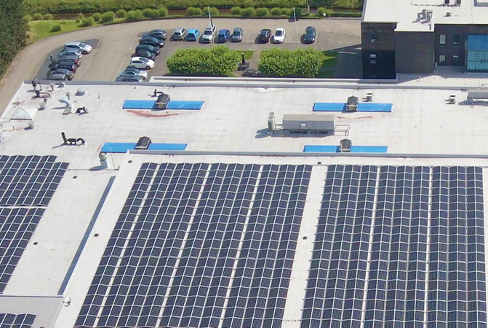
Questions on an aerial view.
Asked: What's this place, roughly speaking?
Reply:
industrial area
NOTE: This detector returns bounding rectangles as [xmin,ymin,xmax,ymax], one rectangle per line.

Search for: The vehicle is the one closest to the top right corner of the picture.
[303,27,317,43]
